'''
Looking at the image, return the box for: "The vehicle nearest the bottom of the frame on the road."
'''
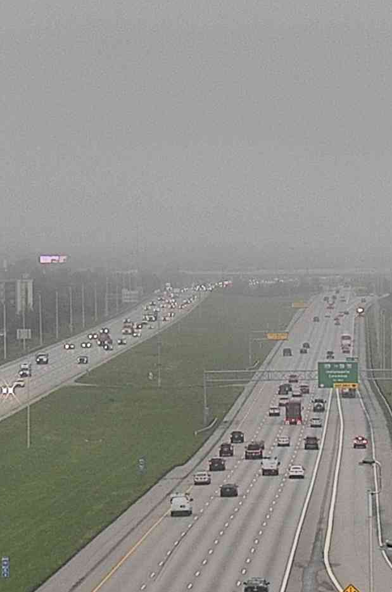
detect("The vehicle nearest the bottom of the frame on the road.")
[242,572,272,592]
